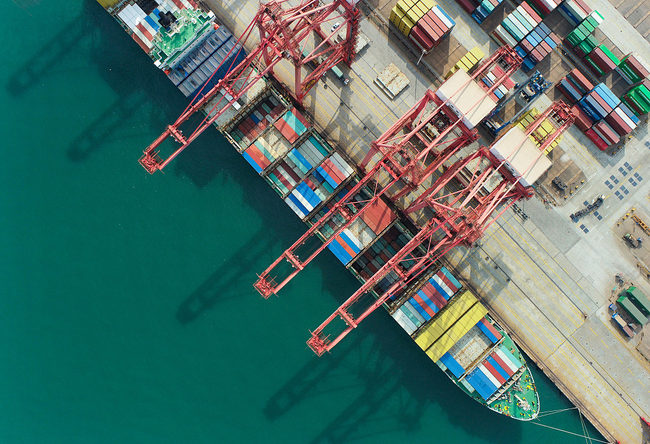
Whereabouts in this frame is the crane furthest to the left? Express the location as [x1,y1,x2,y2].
[131,0,363,179]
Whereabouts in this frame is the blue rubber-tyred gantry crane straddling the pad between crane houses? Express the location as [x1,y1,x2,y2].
[479,68,554,137]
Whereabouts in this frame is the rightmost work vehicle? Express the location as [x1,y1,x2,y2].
[625,233,650,254]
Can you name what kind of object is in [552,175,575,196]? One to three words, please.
work vehicle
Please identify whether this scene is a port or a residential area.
port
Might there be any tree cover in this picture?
No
